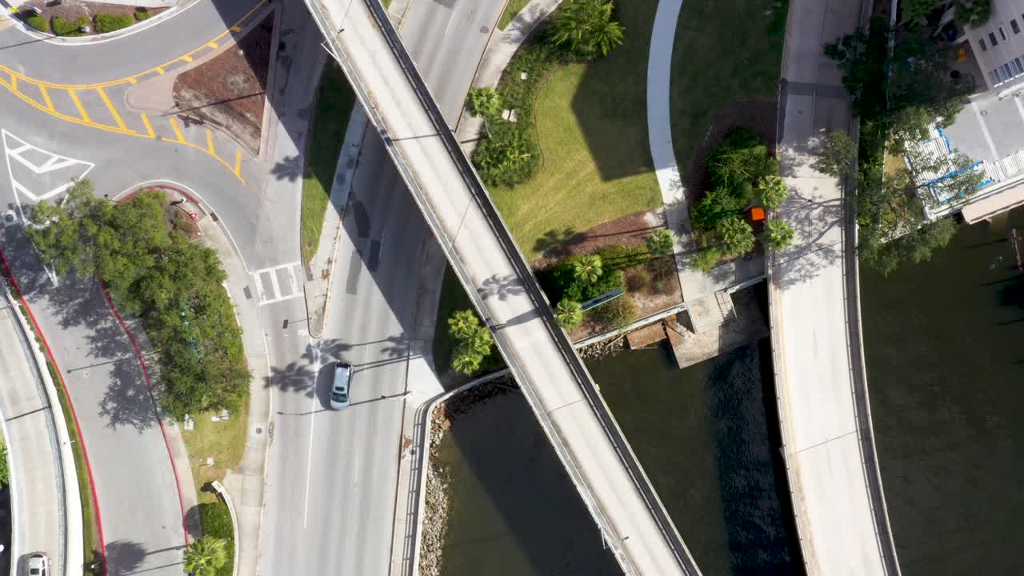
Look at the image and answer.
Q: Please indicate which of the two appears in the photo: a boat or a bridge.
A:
bridge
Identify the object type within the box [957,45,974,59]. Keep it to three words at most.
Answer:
umbrella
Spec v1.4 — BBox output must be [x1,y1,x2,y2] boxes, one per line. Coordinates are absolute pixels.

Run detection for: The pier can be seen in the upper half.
[962,182,1024,225]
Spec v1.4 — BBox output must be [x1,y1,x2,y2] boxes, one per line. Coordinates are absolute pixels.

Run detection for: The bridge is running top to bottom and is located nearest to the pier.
[768,0,903,576]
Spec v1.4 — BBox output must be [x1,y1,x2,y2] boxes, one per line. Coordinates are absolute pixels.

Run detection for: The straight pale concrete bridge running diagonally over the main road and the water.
[304,0,702,576]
